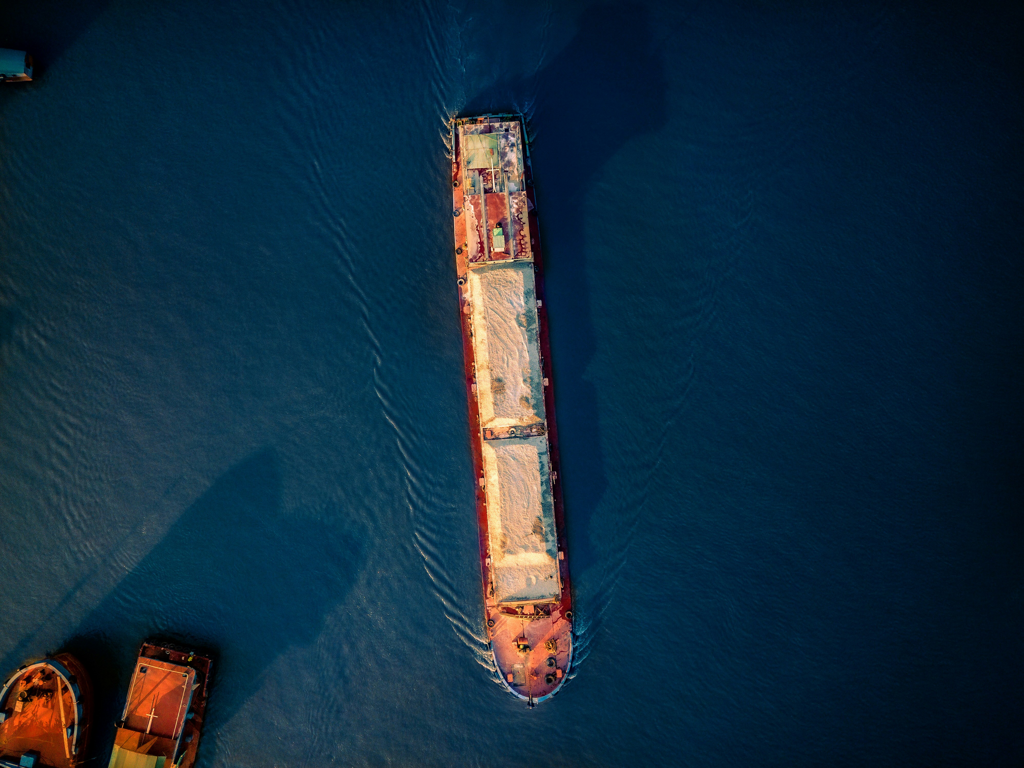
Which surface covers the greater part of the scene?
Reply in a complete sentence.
The bulk of the photo consists of water.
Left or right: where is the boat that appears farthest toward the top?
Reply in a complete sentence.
The boat that appears farthest toward the top is on the left side of the image.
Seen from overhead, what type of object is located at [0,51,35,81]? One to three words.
boat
